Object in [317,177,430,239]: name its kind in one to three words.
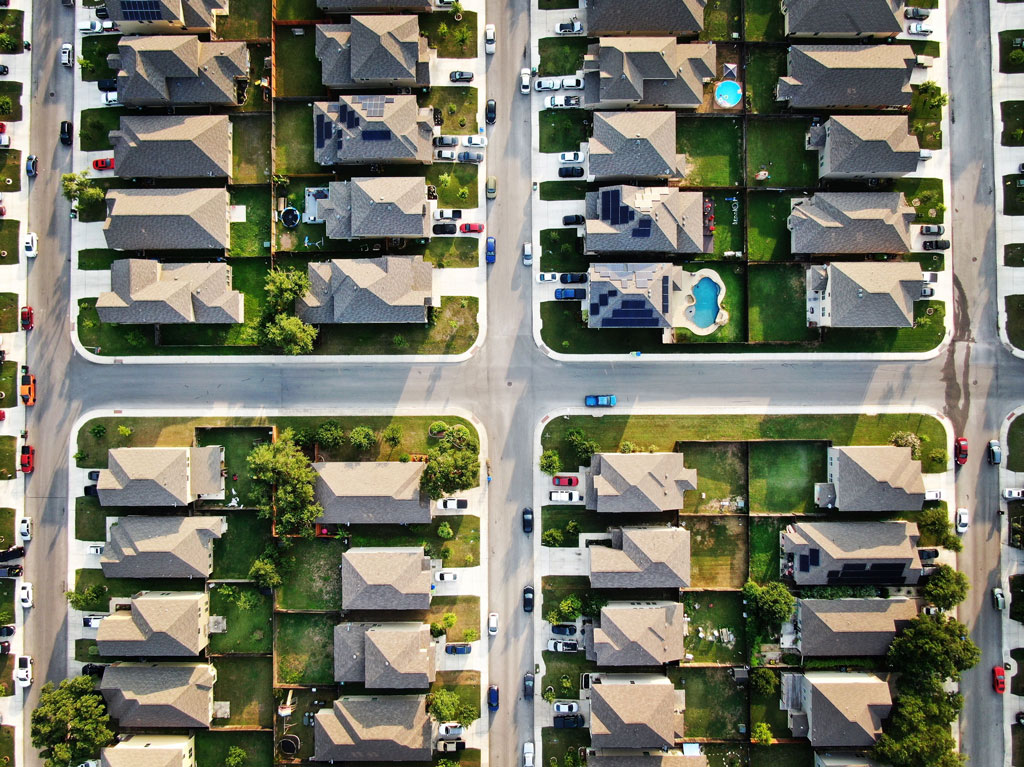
house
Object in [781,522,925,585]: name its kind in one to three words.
house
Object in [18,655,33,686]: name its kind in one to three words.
vehicle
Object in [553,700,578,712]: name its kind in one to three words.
vehicle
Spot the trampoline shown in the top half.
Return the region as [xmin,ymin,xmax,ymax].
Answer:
[279,206,299,225]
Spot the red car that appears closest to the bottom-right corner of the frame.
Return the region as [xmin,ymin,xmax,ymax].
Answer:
[992,667,1005,692]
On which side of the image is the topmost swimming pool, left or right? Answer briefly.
right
